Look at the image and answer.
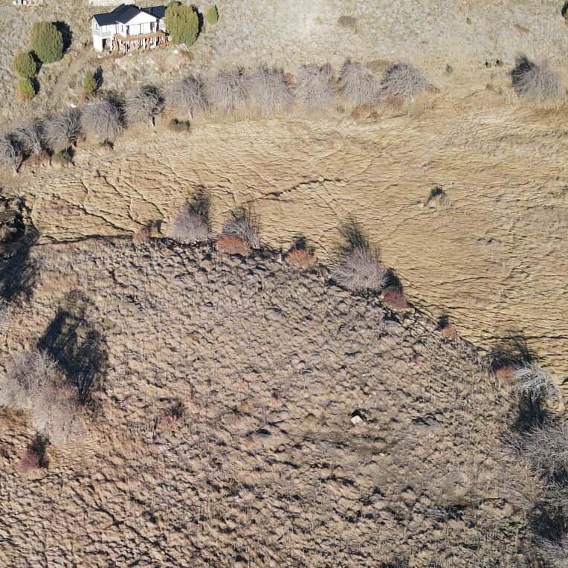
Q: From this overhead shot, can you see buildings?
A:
Yes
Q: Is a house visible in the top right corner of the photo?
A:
No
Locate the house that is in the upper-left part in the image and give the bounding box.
[87,1,187,59]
